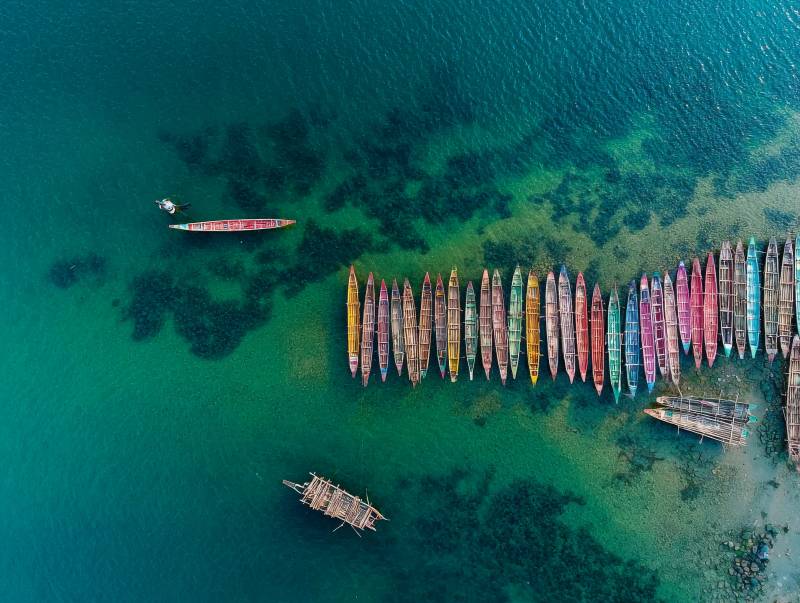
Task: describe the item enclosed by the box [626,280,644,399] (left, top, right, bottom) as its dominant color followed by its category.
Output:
blue boat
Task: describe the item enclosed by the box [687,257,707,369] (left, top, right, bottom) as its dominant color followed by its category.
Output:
pink boat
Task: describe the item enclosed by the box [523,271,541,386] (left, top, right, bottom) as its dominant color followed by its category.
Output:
yellow boat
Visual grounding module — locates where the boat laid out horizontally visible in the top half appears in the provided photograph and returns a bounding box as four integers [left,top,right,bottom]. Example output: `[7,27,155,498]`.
[166,217,296,231]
